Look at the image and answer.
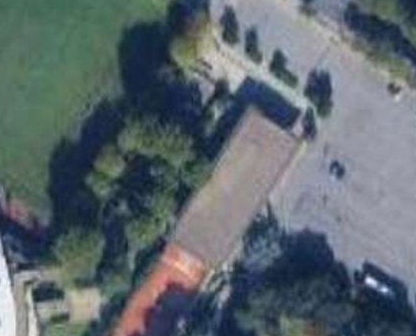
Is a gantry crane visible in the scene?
No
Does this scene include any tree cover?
Yes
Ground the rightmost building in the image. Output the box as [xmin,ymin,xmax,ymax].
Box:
[171,106,302,270]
